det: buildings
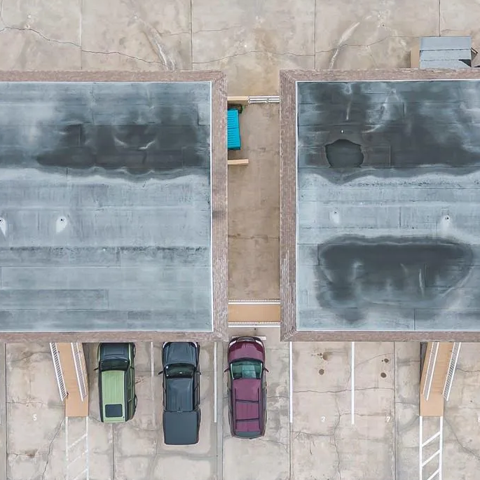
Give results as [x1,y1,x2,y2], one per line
[281,67,480,343]
[0,69,228,344]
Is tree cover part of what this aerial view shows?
No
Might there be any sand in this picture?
No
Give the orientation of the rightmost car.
up and down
